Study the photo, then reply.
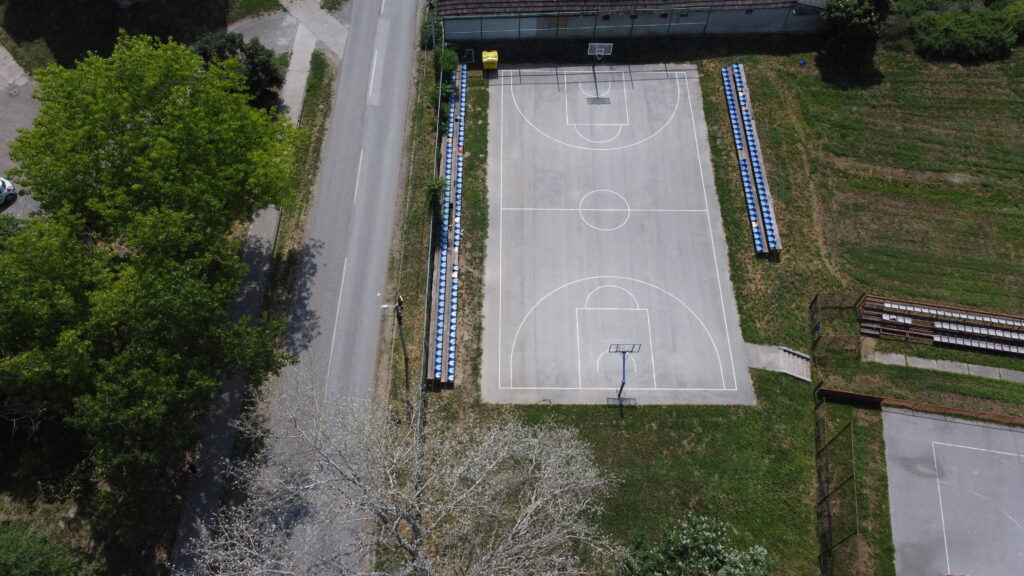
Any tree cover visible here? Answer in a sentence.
Yes, some tree cover is visible.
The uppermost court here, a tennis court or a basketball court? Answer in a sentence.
I'd say the uppermost court is a basketball court.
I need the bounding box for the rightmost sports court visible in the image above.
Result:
[883,410,1024,576]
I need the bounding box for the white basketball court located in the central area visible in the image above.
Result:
[481,61,756,405]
